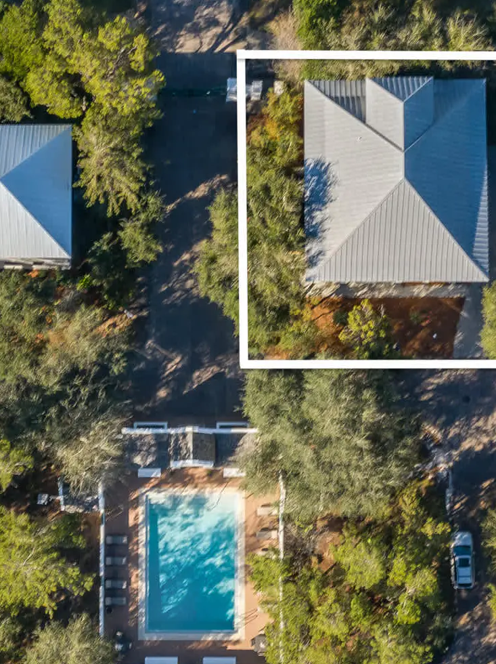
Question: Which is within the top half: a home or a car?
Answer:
home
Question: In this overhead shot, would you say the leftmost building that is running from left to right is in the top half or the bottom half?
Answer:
bottom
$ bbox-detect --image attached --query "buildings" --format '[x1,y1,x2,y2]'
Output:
[122,424,255,471]
[0,123,74,280]
[302,76,493,291]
